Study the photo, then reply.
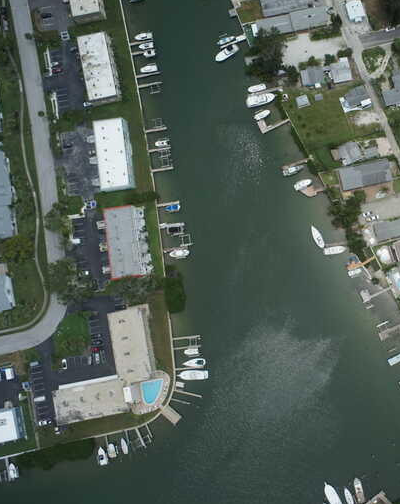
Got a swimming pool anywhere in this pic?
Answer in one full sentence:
Yes, a swimming pool appears in the view.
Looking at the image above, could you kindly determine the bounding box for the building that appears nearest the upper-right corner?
[346,0,366,25]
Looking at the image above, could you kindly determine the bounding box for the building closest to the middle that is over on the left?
[97,206,156,279]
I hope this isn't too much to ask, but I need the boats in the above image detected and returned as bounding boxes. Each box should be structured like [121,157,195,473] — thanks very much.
[179,369,211,379]
[245,94,275,107]
[98,447,107,468]
[121,437,129,455]
[9,462,18,480]
[107,443,117,459]
[167,204,182,211]
[247,84,266,93]
[346,487,354,504]
[184,348,200,354]
[182,357,209,367]
[312,226,326,249]
[170,248,192,257]
[139,41,155,49]
[327,483,341,504]
[348,269,361,277]
[217,43,240,60]
[167,228,181,234]
[356,479,364,503]
[282,166,303,177]
[143,49,156,57]
[135,32,155,40]
[217,35,235,44]
[293,180,312,190]
[253,110,270,121]
[155,140,170,146]
[140,64,160,72]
